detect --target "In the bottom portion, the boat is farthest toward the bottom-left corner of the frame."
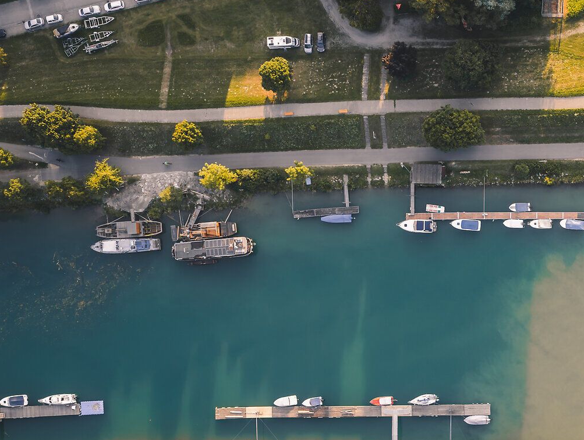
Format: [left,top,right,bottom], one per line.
[0,394,31,407]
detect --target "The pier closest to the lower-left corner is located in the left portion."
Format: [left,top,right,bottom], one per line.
[0,403,80,421]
